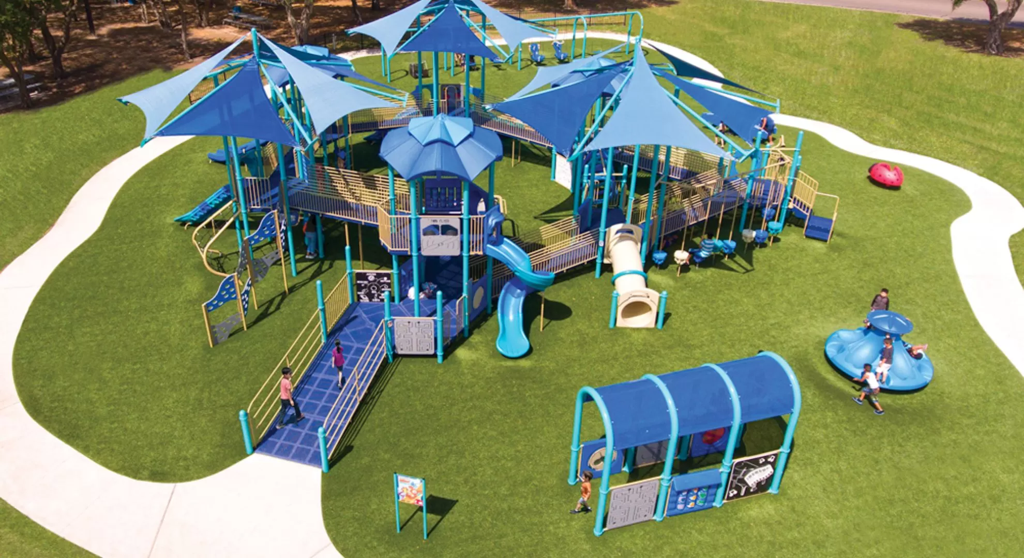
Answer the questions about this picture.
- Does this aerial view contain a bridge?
Yes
